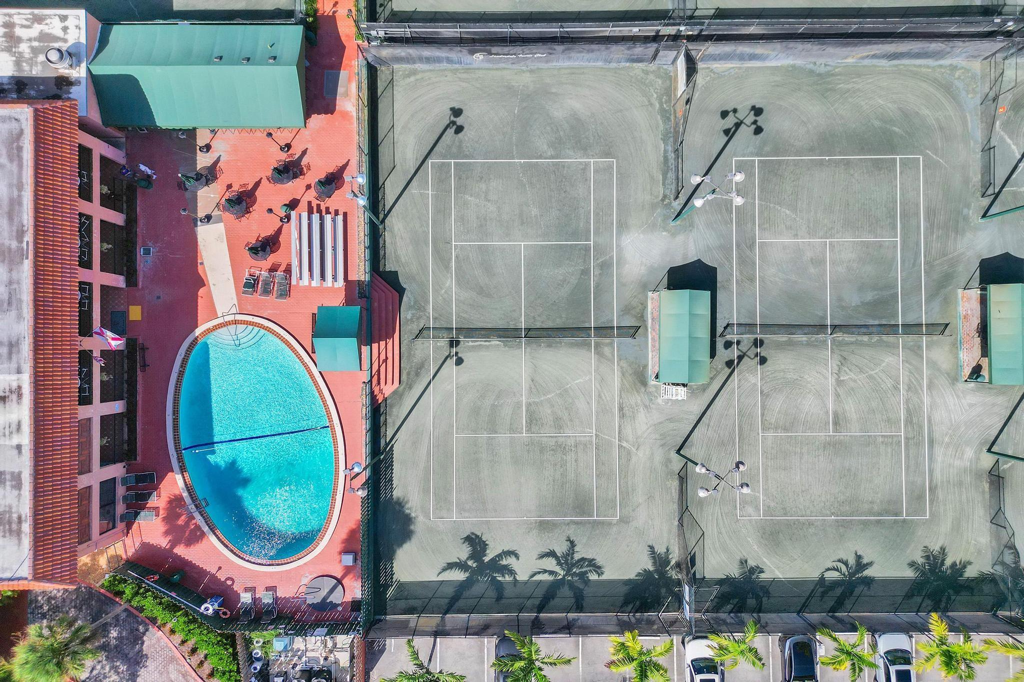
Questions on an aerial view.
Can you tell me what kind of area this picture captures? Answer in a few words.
sports ground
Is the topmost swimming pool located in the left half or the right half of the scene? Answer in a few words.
left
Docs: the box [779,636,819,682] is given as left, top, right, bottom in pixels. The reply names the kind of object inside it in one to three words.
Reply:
car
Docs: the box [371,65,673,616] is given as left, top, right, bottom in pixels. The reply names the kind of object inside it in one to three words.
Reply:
tennis court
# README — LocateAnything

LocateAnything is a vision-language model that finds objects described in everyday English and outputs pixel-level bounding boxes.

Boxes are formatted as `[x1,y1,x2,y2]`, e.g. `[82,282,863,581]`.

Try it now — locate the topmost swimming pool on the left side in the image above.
[167,314,344,570]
